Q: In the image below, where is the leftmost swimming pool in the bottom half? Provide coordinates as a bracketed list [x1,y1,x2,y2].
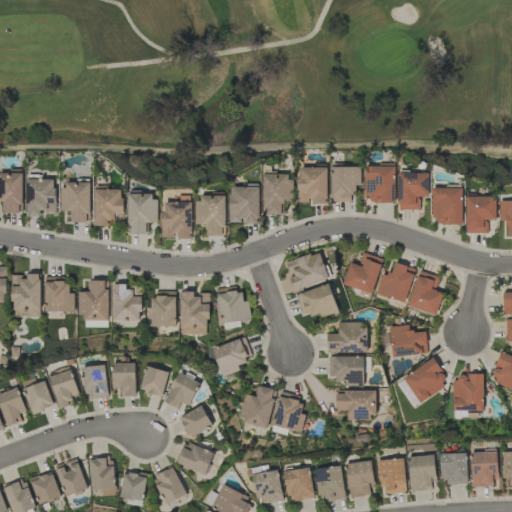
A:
[21,341,42,354]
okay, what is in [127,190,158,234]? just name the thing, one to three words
house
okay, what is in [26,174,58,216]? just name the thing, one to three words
house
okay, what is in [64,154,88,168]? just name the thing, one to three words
swimming pool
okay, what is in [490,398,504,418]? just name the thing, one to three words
swimming pool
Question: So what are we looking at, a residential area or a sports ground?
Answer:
residential area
